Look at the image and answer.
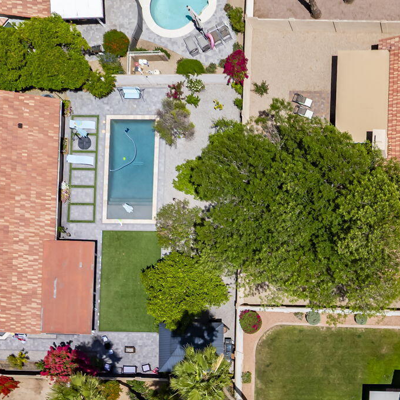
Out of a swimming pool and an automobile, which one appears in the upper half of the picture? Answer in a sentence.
The one visible in the upper half of the picture is a swimming pool.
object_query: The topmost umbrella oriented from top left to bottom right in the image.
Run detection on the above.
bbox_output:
[187,7,213,41]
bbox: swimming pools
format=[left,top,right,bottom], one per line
[101,115,160,225]
[143,0,216,37]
